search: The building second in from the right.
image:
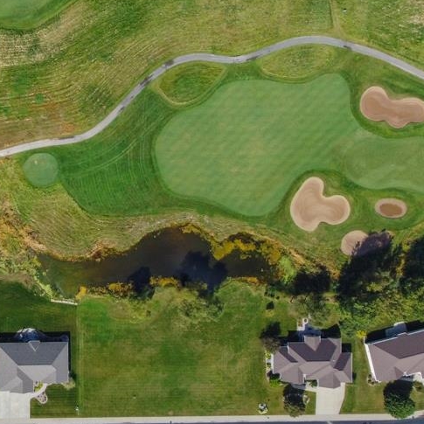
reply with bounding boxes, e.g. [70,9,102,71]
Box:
[270,335,353,388]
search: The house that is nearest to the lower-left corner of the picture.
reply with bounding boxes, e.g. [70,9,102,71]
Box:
[0,340,69,393]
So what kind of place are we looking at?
golf course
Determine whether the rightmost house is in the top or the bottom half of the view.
bottom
